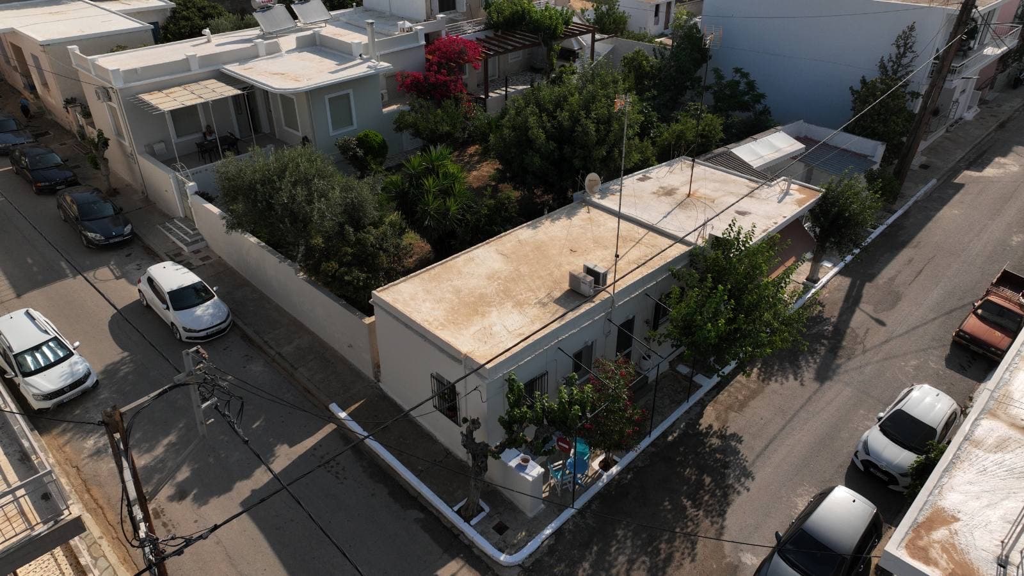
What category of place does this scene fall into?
residential area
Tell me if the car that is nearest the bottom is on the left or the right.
right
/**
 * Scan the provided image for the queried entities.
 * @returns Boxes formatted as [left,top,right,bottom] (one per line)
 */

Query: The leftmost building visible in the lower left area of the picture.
[0,383,86,576]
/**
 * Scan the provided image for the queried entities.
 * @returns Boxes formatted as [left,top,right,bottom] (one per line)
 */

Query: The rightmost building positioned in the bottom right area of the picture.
[880,328,1024,576]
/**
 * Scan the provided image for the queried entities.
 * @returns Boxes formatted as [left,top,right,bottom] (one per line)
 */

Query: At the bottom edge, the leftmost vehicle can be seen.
[743,483,889,576]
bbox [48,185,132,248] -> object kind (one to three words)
car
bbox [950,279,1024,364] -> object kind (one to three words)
truck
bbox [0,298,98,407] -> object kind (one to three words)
car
